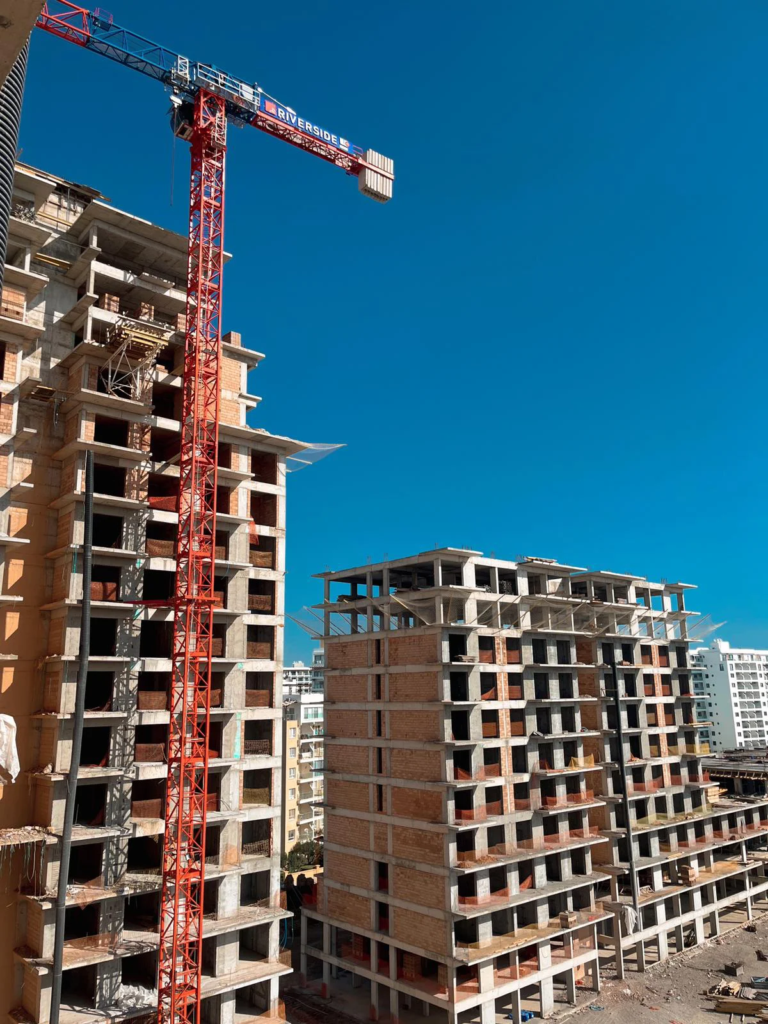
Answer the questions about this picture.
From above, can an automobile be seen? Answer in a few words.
No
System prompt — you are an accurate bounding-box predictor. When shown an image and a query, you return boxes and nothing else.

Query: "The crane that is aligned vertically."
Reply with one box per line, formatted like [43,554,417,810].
[31,0,396,1024]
